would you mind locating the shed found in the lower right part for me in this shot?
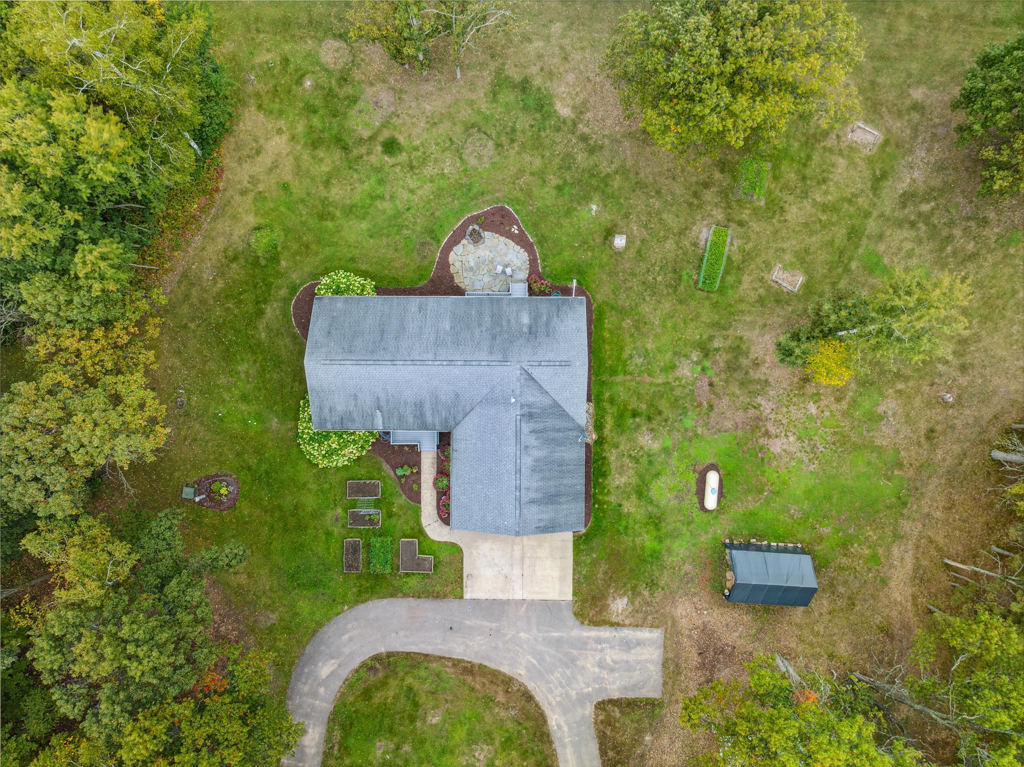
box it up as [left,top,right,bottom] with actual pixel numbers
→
[718,543,819,606]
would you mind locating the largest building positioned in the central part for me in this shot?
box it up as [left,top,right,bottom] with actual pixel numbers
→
[304,294,589,537]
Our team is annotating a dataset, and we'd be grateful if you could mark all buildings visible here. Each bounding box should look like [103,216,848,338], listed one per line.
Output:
[718,543,819,606]
[304,294,589,537]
